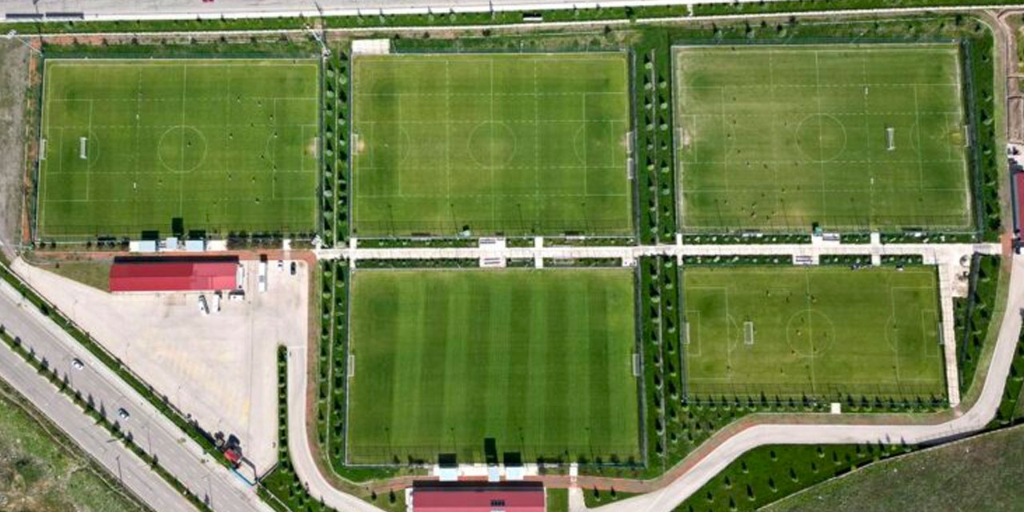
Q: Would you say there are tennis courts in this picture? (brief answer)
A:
No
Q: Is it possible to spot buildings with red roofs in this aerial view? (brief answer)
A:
Yes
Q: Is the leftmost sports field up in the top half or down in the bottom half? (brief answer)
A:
top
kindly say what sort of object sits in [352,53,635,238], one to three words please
sports field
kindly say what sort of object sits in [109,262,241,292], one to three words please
building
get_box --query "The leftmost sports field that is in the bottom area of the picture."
[346,268,642,466]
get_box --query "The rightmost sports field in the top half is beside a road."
[674,44,975,234]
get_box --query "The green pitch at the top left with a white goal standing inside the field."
[37,60,320,241]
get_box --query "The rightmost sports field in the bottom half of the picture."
[684,265,948,402]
